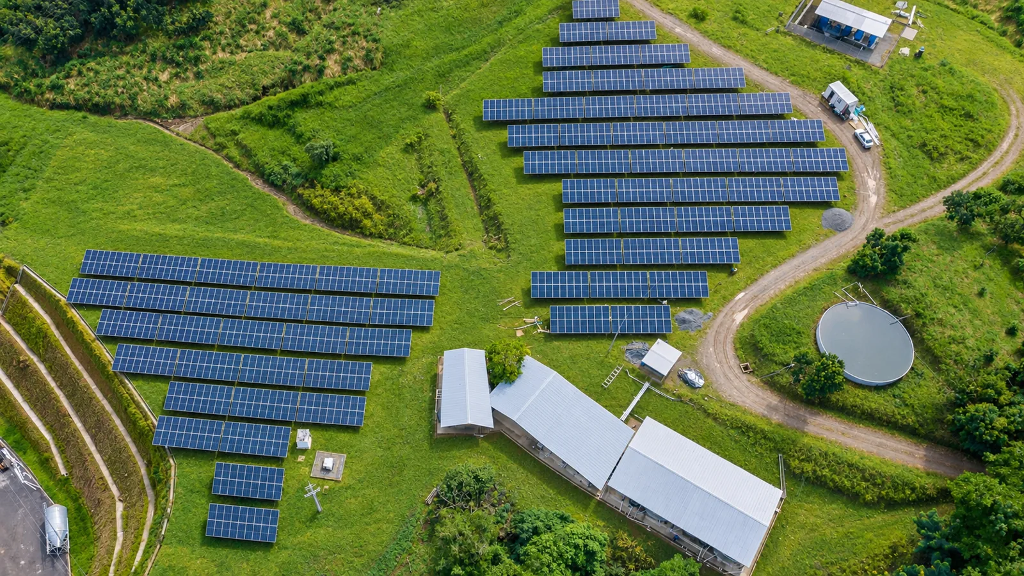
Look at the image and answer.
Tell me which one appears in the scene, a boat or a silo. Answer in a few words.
silo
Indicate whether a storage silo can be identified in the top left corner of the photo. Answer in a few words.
No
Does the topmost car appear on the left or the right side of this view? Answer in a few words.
right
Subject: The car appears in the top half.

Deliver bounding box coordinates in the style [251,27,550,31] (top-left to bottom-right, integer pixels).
[852,129,876,151]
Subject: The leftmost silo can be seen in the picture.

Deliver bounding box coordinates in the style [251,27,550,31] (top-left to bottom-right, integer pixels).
[43,503,71,558]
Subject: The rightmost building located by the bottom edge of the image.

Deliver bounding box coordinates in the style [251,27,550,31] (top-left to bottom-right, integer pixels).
[600,417,788,576]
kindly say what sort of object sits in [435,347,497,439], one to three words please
shed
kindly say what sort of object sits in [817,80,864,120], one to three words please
building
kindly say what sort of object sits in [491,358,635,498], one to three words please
barn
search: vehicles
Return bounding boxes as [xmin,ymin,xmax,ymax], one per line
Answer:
[852,129,876,151]
[0,454,13,477]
